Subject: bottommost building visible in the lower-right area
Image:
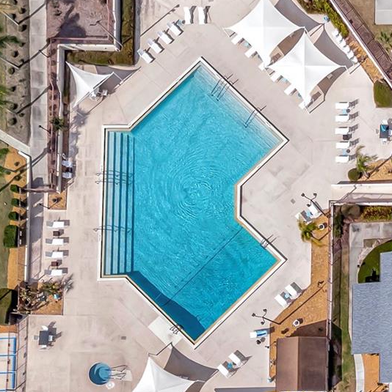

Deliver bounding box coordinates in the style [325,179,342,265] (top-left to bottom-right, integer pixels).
[276,337,330,392]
